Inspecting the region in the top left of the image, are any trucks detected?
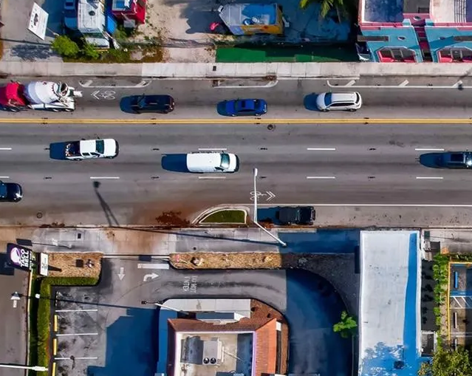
Yes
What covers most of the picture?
paved ground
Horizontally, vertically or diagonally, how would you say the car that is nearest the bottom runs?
horizontally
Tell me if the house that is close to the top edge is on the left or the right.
right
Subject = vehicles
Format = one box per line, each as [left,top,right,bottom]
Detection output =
[351,23,370,59]
[186,150,239,173]
[132,91,177,114]
[60,0,78,30]
[66,136,120,159]
[316,90,362,113]
[226,96,269,118]
[0,80,84,113]
[276,204,316,225]
[77,0,114,57]
[442,149,472,171]
[0,180,25,202]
